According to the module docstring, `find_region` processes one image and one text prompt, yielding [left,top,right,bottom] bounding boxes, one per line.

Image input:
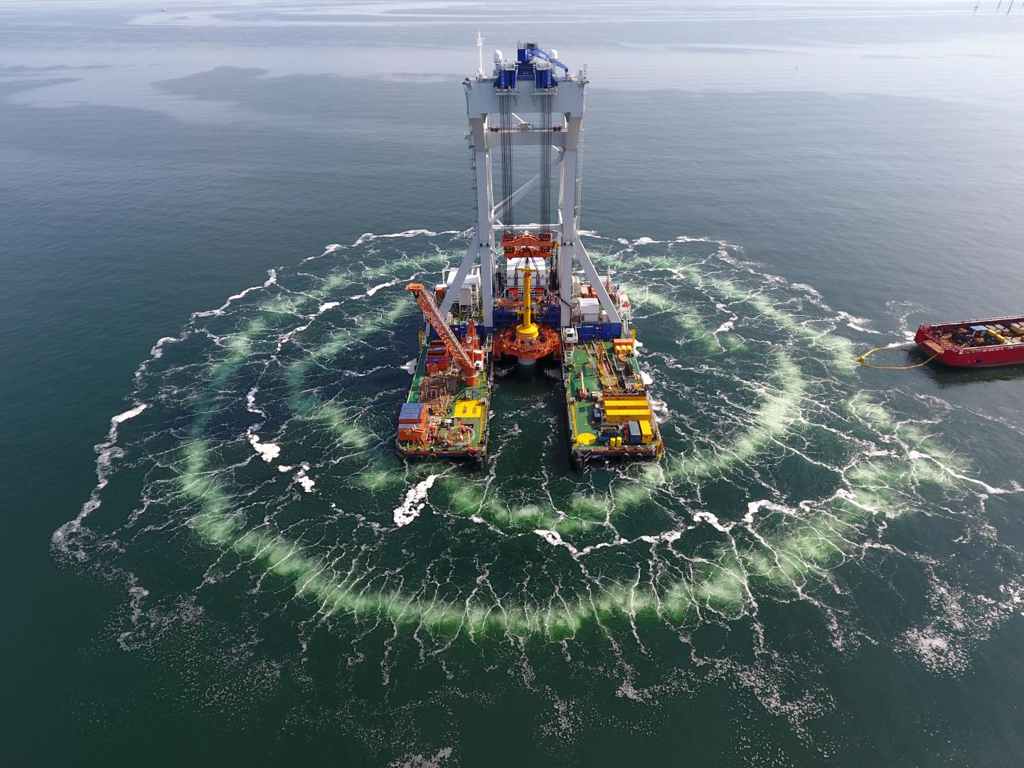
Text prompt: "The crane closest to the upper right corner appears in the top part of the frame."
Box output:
[518,39,570,77]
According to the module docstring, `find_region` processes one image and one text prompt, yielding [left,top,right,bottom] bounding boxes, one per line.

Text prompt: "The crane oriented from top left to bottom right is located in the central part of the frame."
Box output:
[398,285,486,386]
